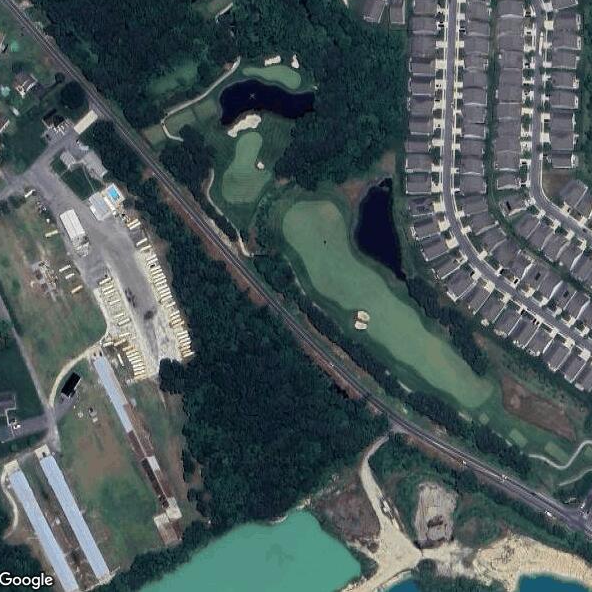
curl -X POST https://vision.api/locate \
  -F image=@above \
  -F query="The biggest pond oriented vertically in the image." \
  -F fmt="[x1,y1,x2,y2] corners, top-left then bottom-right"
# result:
[358,178,405,279]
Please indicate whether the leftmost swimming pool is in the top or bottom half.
top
